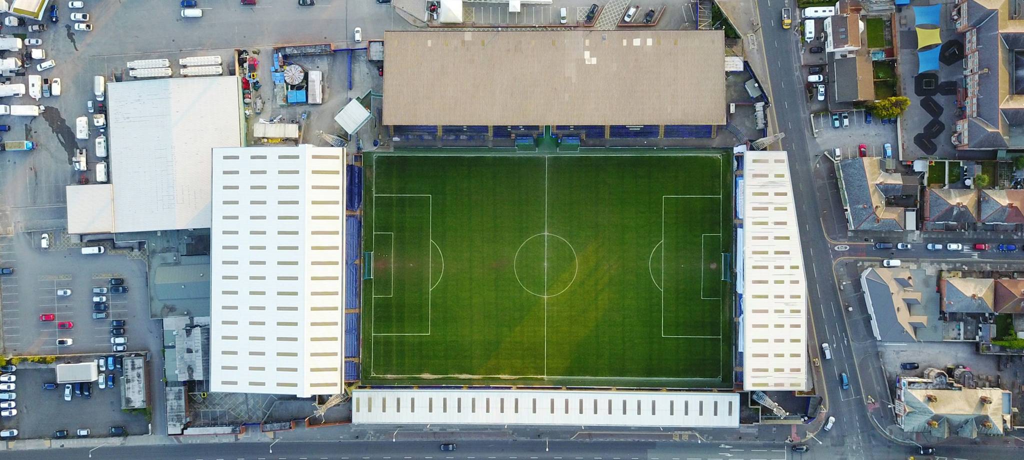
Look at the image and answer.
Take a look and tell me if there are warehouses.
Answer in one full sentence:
Yes, a warehouse appears in the view.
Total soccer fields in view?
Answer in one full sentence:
My tally gives 1 soccer field in this photo.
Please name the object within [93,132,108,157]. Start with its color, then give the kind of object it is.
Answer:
white camper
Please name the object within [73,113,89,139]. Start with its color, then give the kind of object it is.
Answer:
white camper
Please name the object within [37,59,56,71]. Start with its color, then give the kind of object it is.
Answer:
white vehicle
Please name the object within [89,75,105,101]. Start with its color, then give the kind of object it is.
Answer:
white vehicle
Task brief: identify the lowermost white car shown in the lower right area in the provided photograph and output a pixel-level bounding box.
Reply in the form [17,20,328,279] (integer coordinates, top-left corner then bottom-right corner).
[823,415,836,432]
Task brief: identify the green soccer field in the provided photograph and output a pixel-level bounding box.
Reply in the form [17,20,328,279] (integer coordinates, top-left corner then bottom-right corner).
[361,148,734,388]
